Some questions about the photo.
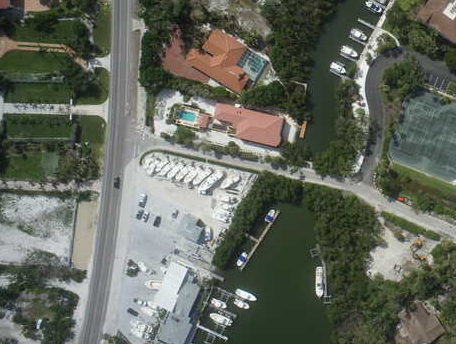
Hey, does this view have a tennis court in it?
Yes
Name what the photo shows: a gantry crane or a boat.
boat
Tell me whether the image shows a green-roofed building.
No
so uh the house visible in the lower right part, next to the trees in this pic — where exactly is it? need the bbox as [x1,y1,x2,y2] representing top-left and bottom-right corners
[389,299,447,344]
